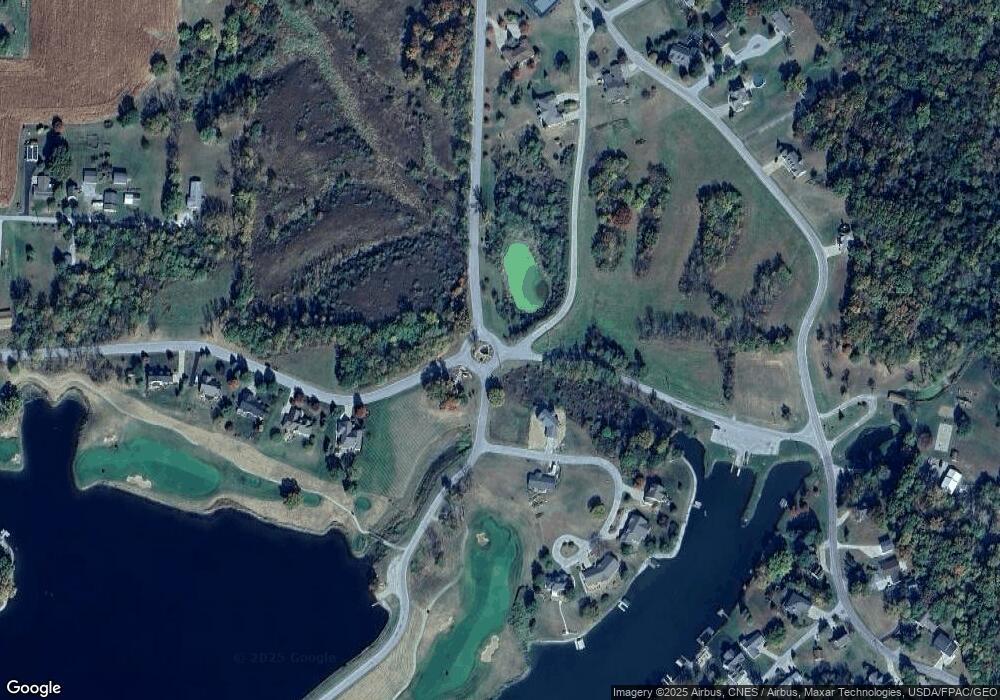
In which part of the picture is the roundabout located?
center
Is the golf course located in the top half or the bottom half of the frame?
bottom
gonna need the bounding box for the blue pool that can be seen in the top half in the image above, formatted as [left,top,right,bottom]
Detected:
[752,73,767,88]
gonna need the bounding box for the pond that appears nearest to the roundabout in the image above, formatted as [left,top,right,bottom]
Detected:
[505,242,549,312]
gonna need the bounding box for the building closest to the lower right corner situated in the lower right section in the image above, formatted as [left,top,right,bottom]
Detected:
[931,627,961,658]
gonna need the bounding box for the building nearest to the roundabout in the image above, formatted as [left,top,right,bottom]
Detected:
[536,407,559,438]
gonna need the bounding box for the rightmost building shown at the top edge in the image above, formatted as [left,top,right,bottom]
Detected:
[771,8,795,33]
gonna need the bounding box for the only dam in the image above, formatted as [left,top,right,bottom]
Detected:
[305,598,424,700]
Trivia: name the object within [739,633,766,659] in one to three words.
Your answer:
house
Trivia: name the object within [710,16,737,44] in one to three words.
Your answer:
house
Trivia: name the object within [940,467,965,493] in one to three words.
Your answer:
building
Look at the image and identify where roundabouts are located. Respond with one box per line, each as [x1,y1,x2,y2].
[425,322,541,388]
